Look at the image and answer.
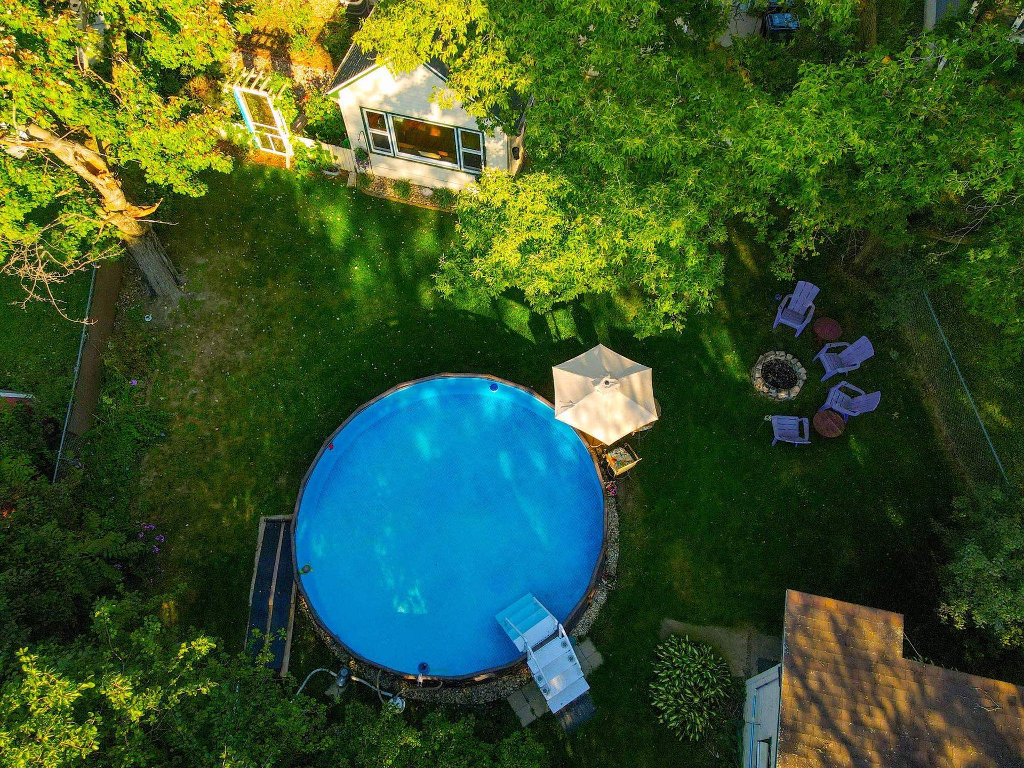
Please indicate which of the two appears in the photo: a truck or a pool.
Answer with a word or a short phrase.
pool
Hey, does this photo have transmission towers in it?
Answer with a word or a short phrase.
No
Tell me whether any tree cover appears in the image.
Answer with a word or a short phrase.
Yes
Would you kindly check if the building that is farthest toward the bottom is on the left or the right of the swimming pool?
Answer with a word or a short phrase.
right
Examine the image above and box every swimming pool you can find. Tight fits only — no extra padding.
[291,374,607,686]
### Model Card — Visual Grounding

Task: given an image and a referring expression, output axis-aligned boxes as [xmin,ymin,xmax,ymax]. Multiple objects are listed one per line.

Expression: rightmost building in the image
[741,587,1024,768]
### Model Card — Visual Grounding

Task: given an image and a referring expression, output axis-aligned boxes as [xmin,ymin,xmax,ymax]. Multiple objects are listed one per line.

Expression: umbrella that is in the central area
[551,343,659,447]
